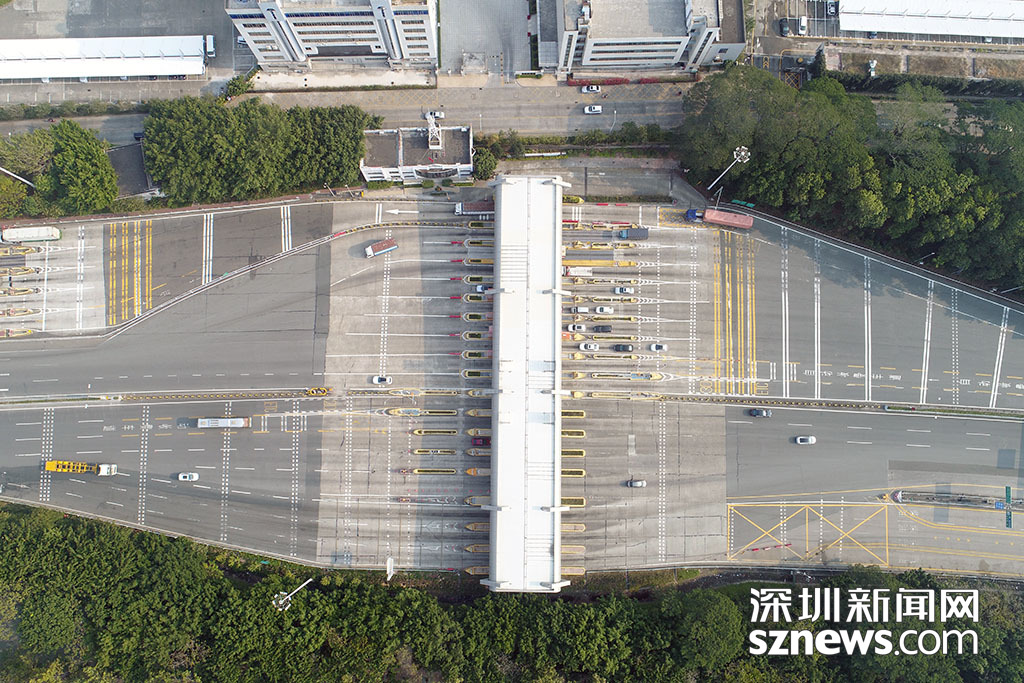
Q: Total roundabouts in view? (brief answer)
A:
none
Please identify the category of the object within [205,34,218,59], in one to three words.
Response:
vehicle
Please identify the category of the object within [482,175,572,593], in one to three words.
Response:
toll station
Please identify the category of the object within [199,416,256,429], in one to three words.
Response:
vehicle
